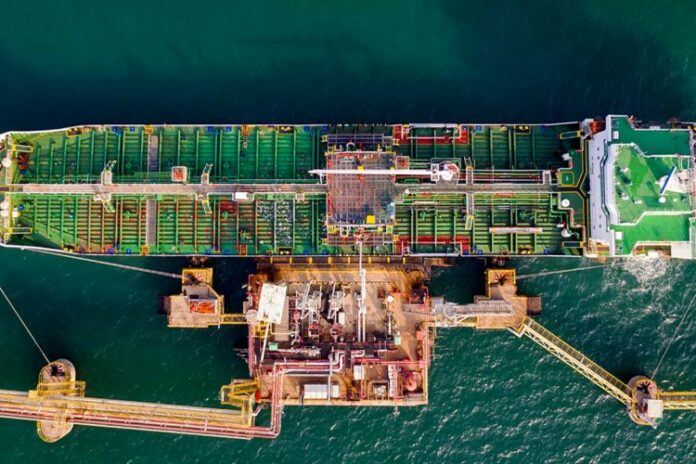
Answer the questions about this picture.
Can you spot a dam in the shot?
No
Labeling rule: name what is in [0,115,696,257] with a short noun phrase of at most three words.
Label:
ship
